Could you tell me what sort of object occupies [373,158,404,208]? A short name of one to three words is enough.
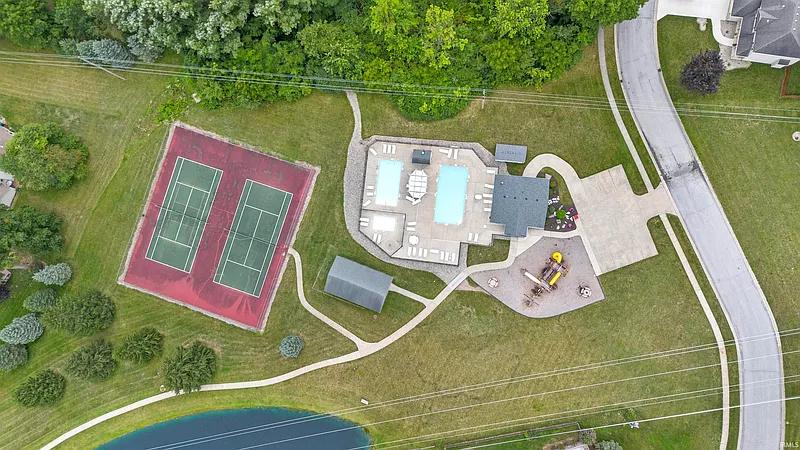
swimming pool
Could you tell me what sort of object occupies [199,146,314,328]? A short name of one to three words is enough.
tennis court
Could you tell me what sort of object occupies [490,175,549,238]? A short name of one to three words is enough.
building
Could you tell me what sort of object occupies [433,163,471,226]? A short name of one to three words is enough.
swimming pool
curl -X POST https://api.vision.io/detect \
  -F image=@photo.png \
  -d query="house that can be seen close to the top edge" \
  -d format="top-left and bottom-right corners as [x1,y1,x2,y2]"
[725,0,800,69]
